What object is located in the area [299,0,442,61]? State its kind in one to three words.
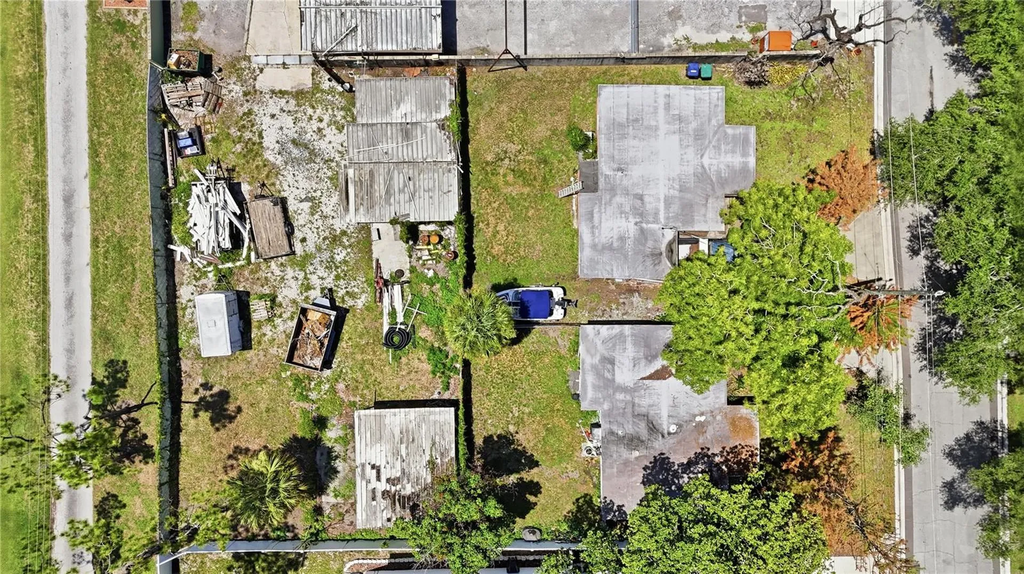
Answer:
shed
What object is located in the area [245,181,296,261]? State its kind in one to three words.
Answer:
trailer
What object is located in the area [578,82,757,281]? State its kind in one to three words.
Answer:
house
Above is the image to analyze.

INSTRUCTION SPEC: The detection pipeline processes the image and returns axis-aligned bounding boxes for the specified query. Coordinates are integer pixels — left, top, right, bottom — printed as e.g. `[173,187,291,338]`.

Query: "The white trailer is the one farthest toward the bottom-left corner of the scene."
[195,275,244,357]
